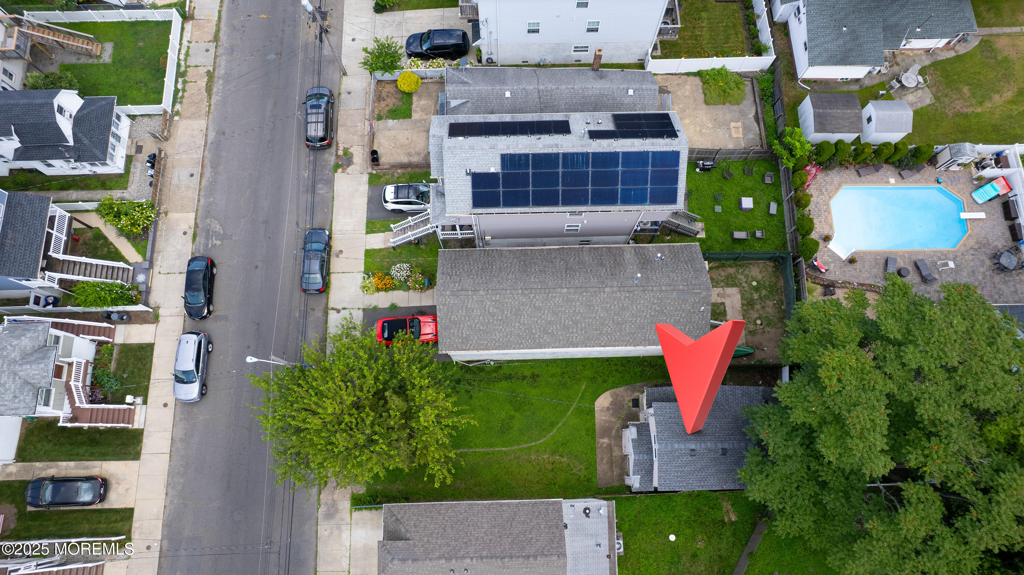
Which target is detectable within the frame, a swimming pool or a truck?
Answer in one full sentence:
This aerial view contains a swimming pool.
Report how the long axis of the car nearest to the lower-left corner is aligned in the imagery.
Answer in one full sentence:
In this picture, the car nearest to the lower-left corner is oriented horizontally.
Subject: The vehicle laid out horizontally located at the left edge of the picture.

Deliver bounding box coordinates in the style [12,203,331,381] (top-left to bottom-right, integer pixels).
[27,472,110,512]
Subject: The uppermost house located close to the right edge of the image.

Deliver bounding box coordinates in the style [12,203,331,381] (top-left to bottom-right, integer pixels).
[789,0,983,94]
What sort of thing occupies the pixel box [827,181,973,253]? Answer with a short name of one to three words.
swimming pool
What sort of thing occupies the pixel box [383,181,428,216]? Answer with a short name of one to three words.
car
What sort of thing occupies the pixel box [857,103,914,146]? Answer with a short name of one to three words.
shed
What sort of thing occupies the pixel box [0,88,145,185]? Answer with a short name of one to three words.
house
